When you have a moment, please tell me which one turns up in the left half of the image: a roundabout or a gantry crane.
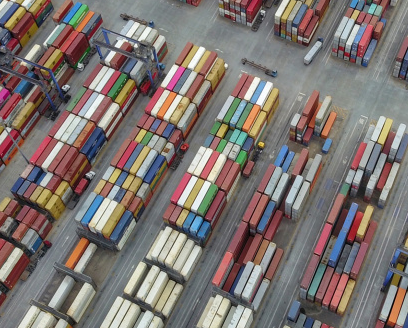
gantry crane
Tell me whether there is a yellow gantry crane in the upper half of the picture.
No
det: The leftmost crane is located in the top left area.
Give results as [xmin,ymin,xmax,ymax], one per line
[0,45,68,116]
